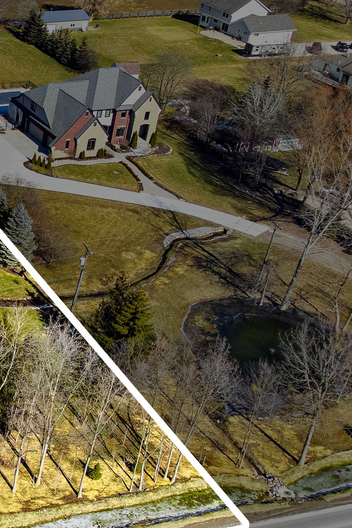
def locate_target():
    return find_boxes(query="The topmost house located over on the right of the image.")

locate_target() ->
[194,0,302,41]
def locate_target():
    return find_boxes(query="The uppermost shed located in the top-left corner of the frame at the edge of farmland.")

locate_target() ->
[32,8,93,34]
